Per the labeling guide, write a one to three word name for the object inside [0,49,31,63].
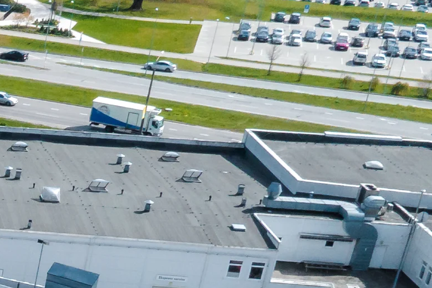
car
